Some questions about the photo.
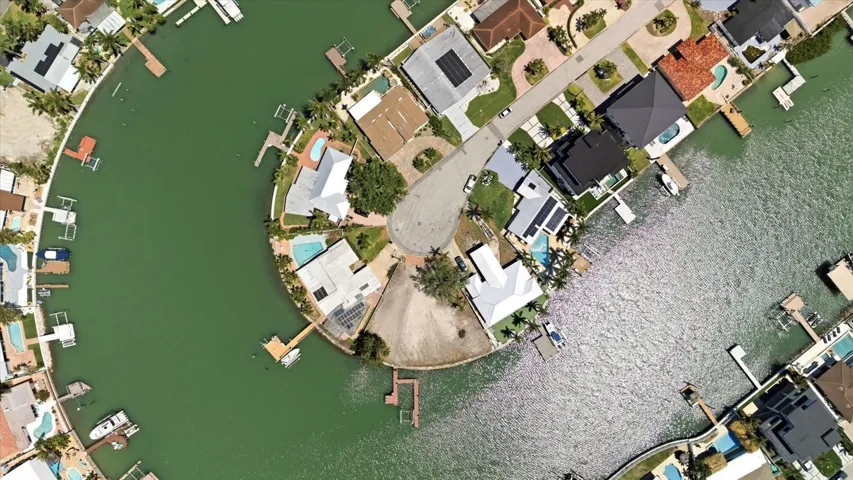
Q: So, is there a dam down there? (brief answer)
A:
No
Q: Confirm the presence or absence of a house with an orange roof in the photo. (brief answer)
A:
Yes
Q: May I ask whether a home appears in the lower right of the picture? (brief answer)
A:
Yes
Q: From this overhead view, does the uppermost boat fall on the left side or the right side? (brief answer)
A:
left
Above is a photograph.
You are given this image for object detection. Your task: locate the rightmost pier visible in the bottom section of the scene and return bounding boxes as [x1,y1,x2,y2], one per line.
[779,292,822,342]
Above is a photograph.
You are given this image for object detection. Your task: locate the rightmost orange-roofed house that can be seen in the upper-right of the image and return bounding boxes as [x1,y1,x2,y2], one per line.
[657,33,729,101]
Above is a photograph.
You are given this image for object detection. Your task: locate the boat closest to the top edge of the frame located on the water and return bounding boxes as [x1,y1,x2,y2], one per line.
[219,0,242,21]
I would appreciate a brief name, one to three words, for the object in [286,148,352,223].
house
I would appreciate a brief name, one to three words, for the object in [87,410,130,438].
boat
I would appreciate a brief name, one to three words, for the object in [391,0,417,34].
pier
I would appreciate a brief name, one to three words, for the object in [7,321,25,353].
swimming pool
